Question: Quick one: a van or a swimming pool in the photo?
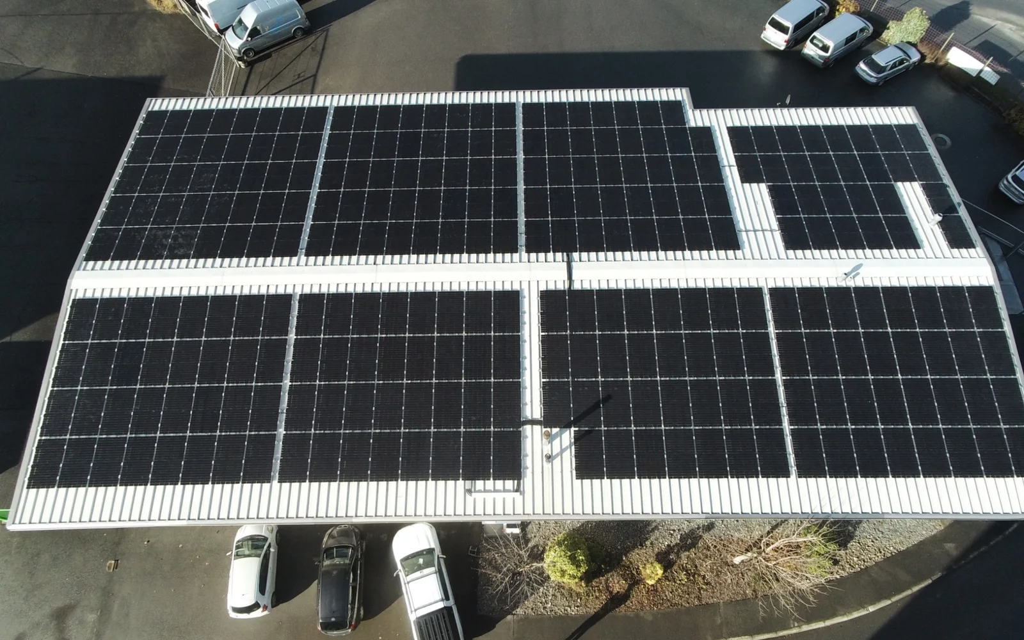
van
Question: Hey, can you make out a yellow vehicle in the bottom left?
No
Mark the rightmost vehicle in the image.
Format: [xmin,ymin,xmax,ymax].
[996,165,1024,205]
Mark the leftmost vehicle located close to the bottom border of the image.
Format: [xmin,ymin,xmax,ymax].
[226,524,281,622]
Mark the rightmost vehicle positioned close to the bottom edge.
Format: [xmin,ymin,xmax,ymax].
[394,522,461,640]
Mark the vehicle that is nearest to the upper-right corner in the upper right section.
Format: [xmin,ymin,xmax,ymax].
[856,41,925,86]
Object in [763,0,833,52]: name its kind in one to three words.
van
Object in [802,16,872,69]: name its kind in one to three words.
van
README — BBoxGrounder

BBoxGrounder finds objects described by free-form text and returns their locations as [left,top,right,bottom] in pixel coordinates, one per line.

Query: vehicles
[802,16,872,69]
[394,522,461,640]
[207,0,257,31]
[763,0,833,52]
[856,41,925,86]
[226,524,281,622]
[225,0,308,59]
[315,523,367,635]
[996,165,1024,205]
